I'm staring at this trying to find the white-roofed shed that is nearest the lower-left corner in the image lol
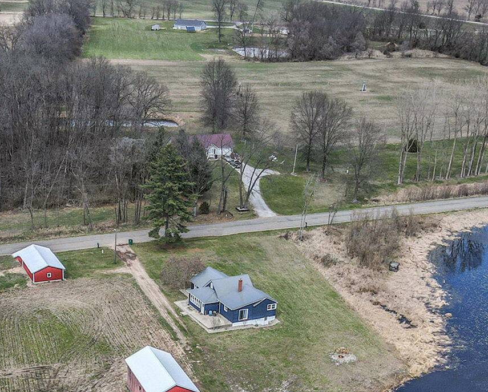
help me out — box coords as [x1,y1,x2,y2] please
[12,244,65,283]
